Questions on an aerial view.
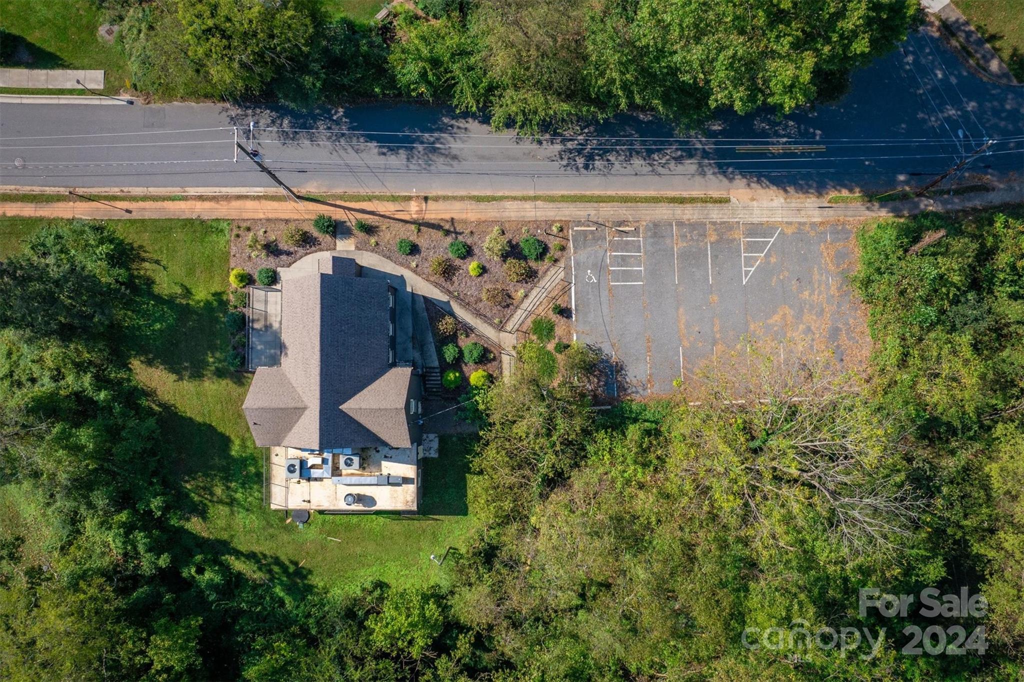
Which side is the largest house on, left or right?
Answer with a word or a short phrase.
left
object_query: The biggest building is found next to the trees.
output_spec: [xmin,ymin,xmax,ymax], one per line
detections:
[240,254,423,510]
